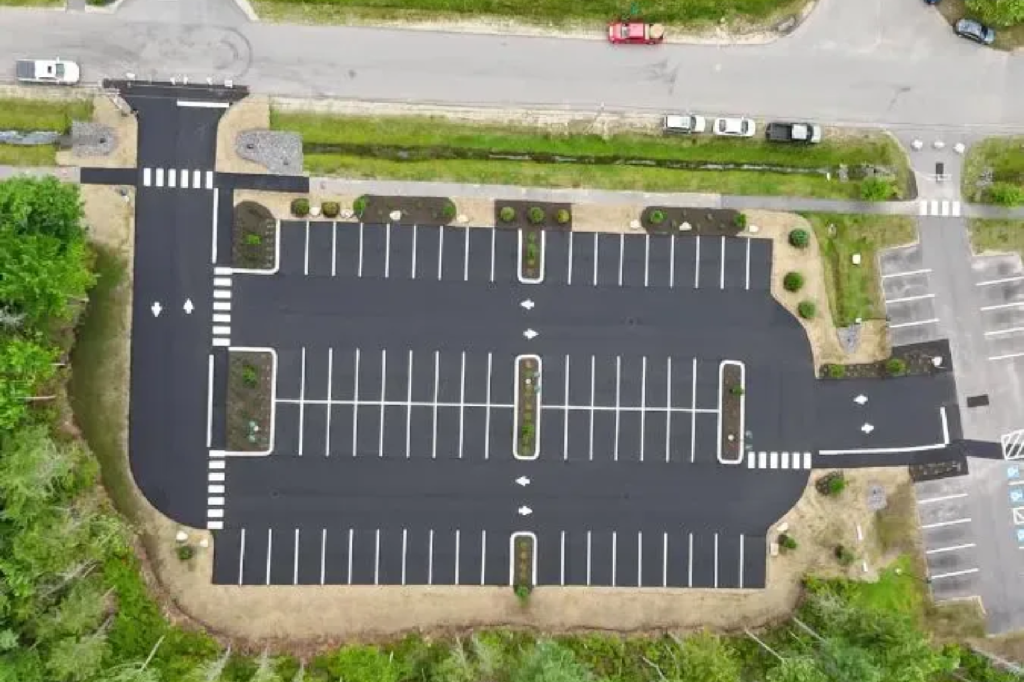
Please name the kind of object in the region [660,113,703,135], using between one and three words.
car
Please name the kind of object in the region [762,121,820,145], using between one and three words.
truck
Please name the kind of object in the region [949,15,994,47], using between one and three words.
car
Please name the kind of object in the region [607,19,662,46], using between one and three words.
truck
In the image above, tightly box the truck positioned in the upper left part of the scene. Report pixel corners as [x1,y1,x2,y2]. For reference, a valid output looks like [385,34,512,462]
[15,58,82,85]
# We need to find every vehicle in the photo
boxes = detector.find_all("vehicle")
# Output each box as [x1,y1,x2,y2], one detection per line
[660,113,703,135]
[607,19,662,46]
[949,15,994,47]
[762,121,820,145]
[15,58,82,85]
[712,115,754,137]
